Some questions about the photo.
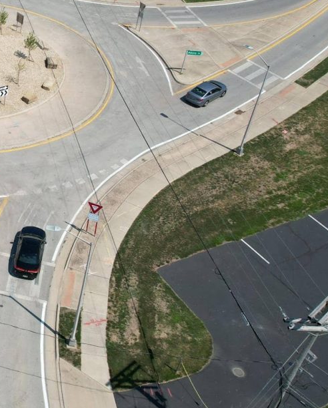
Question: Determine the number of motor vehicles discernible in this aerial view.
2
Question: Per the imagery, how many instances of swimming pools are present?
zero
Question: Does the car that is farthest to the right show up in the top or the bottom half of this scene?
top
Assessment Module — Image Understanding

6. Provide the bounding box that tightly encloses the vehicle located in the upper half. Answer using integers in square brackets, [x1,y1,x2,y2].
[180,76,233,106]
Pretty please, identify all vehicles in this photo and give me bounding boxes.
[9,220,50,283]
[180,76,233,106]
